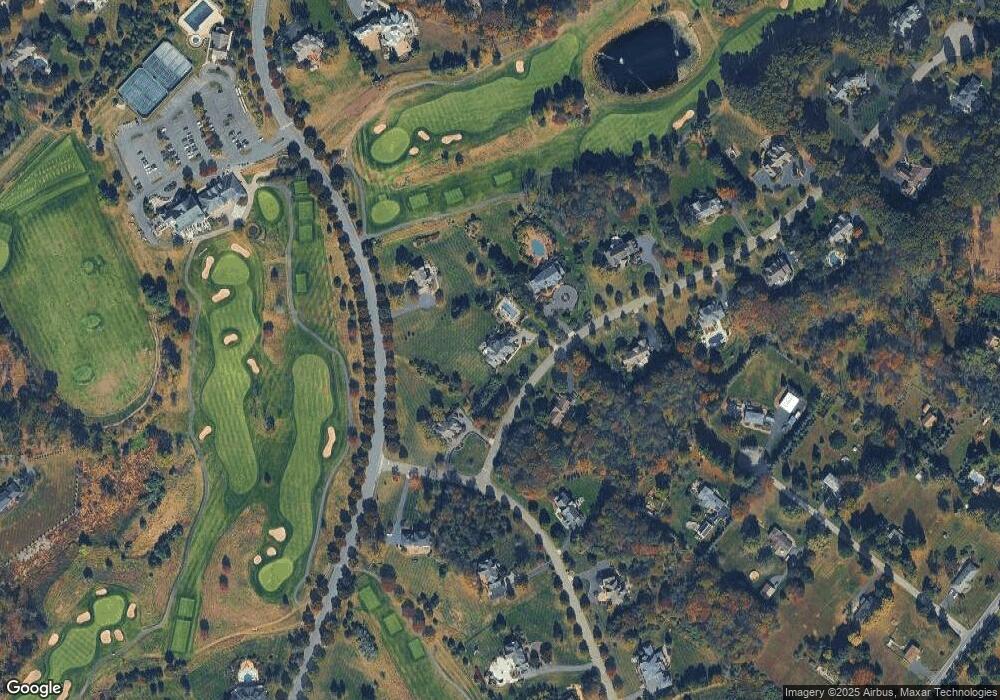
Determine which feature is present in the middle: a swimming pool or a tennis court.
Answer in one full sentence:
What appears in the middle is a swimming pool.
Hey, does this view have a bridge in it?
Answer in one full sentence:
No, the scene contains no bridge.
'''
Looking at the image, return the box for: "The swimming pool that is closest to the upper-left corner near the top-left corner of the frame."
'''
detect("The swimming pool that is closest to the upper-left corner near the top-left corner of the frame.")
[33,54,51,74]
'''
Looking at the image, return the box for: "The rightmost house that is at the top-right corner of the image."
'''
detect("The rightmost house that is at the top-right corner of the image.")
[950,70,986,113]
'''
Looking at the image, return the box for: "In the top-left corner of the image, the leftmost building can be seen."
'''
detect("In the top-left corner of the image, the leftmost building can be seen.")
[2,34,39,65]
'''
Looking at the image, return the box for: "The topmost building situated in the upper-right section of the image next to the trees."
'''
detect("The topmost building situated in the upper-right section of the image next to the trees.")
[892,4,919,35]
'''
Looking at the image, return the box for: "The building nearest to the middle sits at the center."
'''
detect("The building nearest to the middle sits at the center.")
[478,330,521,366]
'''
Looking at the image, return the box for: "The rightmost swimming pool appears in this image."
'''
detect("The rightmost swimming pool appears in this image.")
[825,252,842,268]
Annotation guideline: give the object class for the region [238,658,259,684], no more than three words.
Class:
swimming pool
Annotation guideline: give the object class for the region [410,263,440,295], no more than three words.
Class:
house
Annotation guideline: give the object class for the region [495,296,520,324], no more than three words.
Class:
swimming pool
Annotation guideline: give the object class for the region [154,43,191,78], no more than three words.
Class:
tennis court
